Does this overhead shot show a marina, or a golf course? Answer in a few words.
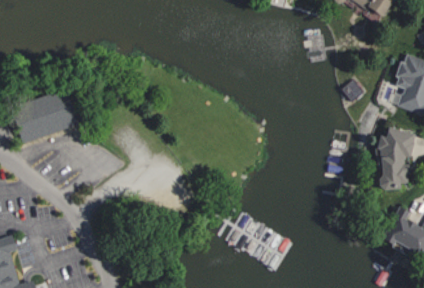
marina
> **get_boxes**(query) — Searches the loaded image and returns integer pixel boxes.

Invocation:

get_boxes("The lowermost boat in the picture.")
[376,271,390,288]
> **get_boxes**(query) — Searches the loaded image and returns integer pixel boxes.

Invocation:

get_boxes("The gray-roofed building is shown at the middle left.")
[19,99,70,140]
